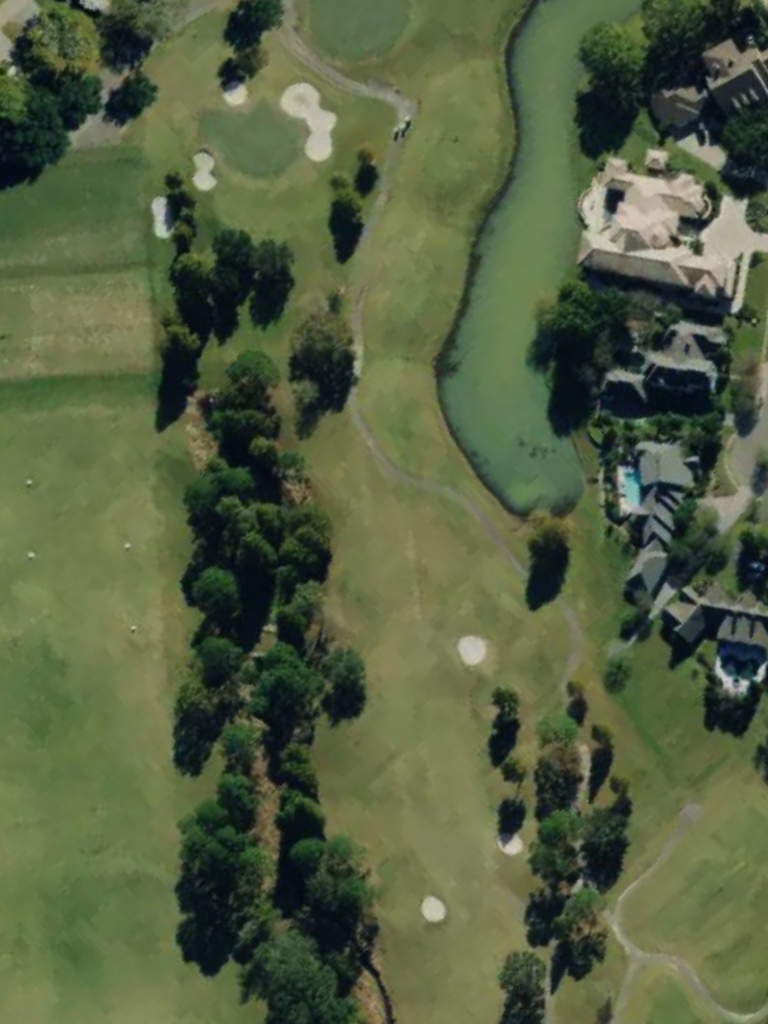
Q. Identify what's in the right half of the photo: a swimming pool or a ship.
swimming pool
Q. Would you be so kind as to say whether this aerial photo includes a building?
Yes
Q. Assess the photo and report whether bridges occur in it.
No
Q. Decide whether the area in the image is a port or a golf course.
golf course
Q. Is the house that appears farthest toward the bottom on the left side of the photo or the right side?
right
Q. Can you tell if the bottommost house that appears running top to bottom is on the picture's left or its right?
right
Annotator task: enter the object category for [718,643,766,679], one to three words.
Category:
swimming pool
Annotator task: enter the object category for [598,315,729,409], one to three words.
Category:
house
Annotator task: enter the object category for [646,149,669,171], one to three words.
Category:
building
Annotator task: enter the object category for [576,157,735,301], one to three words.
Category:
house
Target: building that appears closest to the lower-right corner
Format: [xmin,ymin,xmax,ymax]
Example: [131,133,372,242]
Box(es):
[668,579,768,647]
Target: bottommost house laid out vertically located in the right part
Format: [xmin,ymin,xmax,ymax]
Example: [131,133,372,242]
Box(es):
[625,438,700,592]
